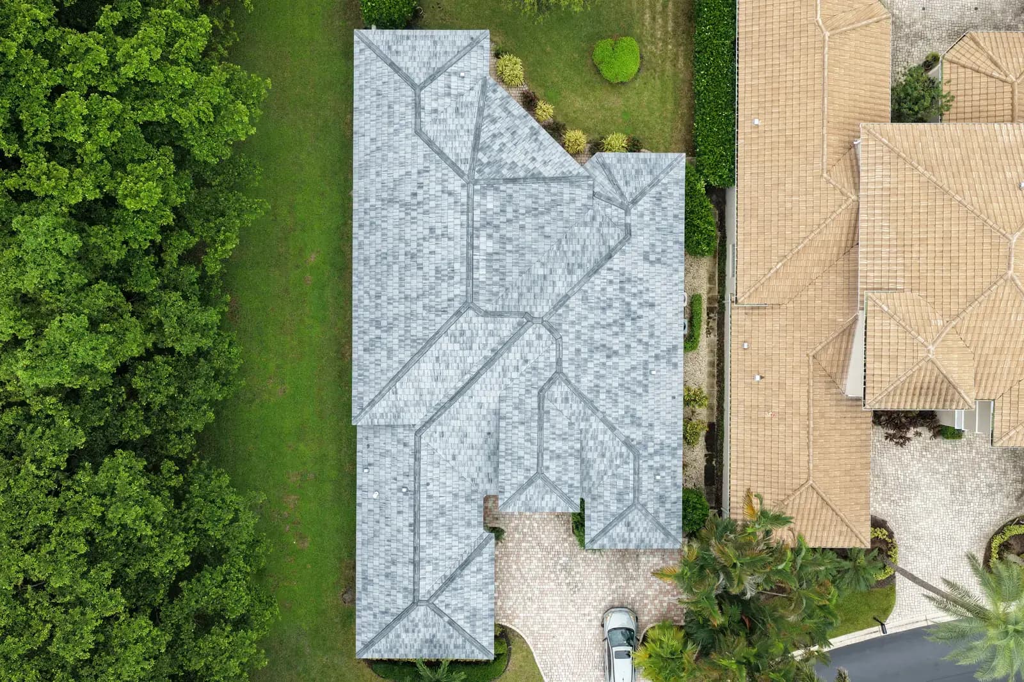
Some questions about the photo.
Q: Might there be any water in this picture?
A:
No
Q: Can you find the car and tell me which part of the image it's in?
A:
bottom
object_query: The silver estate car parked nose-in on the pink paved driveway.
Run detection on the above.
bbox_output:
[601,606,640,682]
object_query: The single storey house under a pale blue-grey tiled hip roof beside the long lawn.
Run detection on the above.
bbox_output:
[351,23,686,660]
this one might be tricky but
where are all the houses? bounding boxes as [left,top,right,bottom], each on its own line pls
[351,23,686,660]
[721,0,1024,549]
